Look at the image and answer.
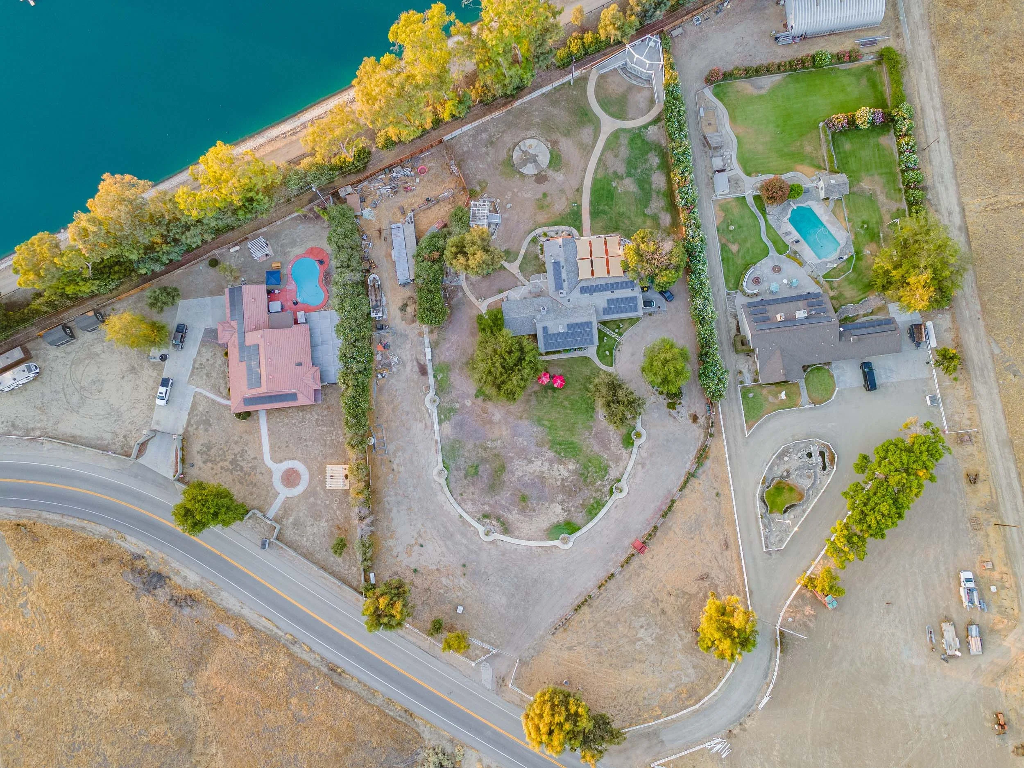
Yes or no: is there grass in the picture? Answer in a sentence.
Yes, there's grass in this view.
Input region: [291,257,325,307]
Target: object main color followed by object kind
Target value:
blue swimming pool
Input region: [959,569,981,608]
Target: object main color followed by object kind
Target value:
white truck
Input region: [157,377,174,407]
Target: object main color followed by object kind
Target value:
white vehicle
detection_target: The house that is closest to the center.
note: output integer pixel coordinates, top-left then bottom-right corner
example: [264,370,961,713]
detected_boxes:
[502,235,642,352]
